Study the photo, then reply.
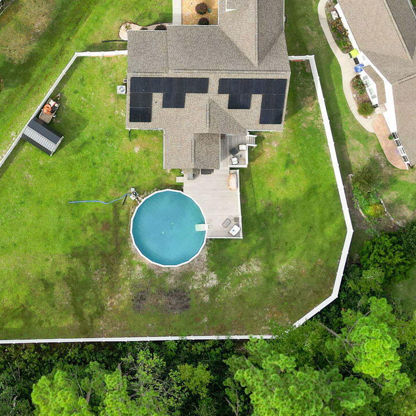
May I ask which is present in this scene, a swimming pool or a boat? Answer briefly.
swimming pool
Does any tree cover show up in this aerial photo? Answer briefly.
Yes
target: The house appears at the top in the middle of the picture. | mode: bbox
[127,0,291,169]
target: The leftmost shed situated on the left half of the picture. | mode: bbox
[22,117,63,153]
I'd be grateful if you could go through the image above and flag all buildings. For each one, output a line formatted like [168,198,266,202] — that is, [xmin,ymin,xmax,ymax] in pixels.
[127,0,291,169]
[22,117,63,153]
[334,0,416,167]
